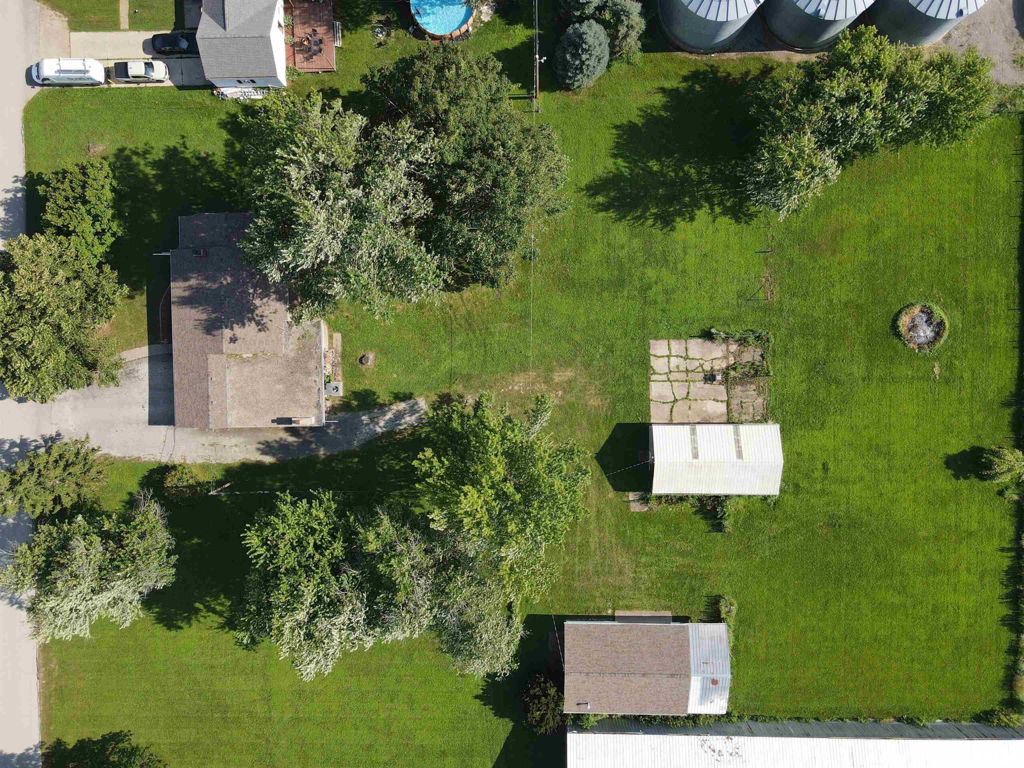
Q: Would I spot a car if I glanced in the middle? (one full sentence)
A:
No, I can find no car in the middle.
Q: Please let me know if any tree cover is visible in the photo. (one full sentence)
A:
Yes, there's tree cover in this view.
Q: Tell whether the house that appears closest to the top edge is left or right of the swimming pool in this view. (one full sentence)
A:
Relative to the swimming pool, the house that appears closest to the top edge lies to the left.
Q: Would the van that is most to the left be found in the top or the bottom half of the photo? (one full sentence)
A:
The top half of the photo is where the van that is most to the left is.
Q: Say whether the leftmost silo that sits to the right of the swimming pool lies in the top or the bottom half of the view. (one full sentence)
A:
The leftmost silo that sits to the right of the swimming pool sits in the top half of the picture.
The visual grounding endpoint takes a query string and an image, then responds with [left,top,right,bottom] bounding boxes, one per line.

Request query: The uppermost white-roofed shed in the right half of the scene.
[648,424,785,495]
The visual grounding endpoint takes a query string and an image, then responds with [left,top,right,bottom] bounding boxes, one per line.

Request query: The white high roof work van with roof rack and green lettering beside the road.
[32,55,103,88]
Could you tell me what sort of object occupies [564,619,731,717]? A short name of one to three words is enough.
building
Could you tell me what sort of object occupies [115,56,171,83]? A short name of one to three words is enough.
truck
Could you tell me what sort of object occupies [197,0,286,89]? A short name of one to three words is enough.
house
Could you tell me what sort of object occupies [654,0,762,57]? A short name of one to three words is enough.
silo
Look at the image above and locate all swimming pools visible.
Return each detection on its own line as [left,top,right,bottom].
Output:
[409,0,470,40]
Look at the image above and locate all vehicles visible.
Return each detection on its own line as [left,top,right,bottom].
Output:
[115,56,171,83]
[32,55,103,88]
[154,29,200,55]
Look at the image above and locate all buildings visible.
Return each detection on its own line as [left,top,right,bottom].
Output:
[567,718,1024,768]
[197,0,286,89]
[170,213,327,428]
[648,424,785,495]
[564,619,731,717]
